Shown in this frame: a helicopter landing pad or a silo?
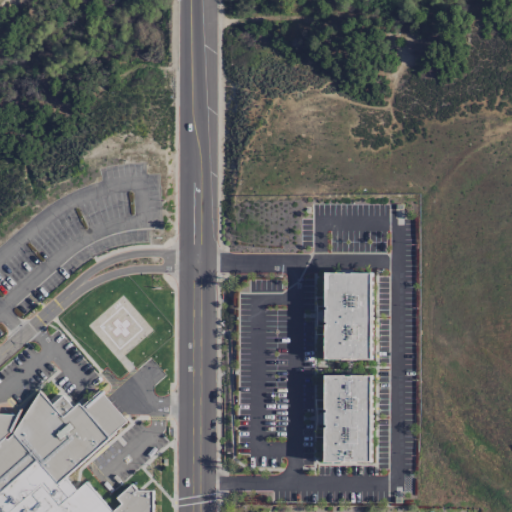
helicopter landing pad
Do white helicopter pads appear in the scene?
Yes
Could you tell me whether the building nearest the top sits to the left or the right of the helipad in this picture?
on its right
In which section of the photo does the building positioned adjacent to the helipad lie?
bottom left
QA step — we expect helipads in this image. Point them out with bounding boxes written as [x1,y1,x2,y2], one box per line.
[90,295,154,372]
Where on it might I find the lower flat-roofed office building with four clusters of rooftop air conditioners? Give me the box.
[324,374,375,461]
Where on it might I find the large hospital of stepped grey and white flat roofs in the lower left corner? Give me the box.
[0,392,130,512]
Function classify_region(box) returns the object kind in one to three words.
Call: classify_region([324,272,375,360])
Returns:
building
